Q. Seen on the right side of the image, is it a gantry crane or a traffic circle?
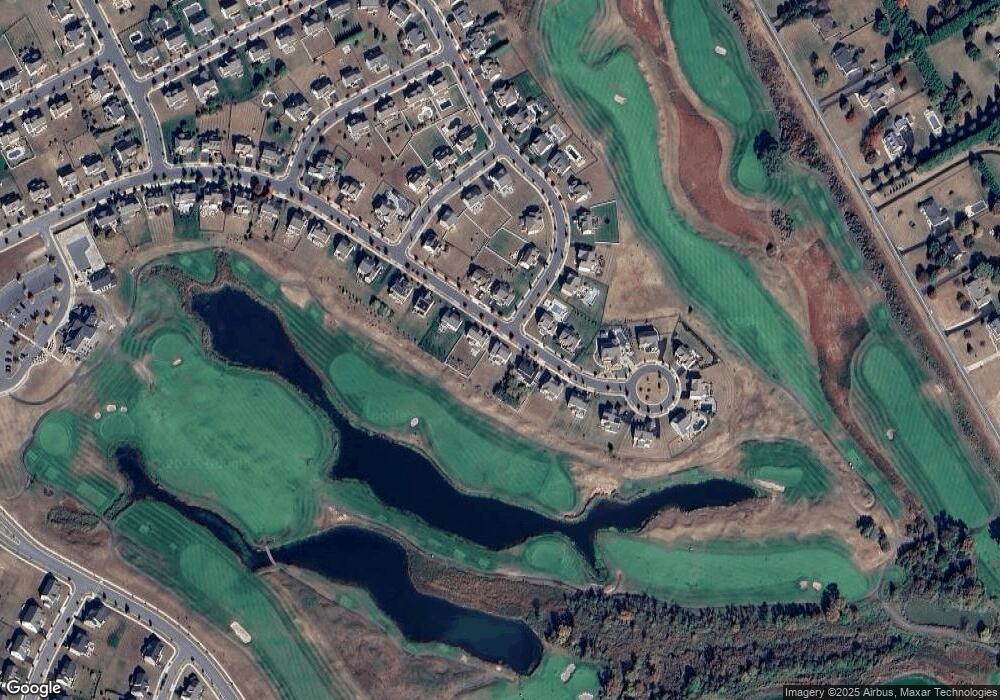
traffic circle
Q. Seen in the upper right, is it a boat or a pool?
pool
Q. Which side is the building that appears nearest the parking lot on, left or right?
left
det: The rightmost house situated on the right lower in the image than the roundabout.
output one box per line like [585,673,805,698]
[671,413,700,438]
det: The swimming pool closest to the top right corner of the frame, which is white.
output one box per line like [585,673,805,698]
[924,112,944,133]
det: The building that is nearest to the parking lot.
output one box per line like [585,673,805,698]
[58,303,100,347]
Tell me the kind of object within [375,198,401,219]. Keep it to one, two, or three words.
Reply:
house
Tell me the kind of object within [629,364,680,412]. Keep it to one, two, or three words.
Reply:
roundabout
